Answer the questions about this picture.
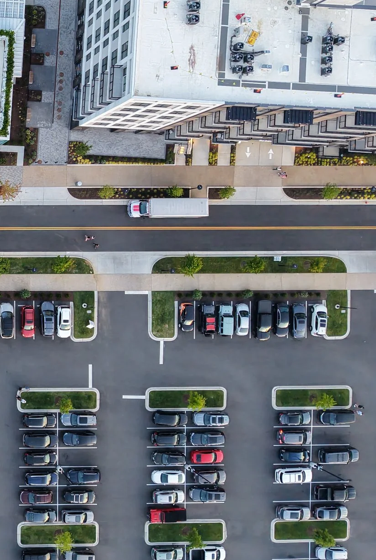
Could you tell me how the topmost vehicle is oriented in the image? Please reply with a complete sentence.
In this picture, the topmost vehicle lies horizontally.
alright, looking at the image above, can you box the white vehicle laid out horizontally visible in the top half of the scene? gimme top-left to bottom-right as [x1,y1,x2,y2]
[122,197,209,218]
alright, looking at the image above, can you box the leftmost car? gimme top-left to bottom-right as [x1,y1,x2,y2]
[0,302,16,338]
